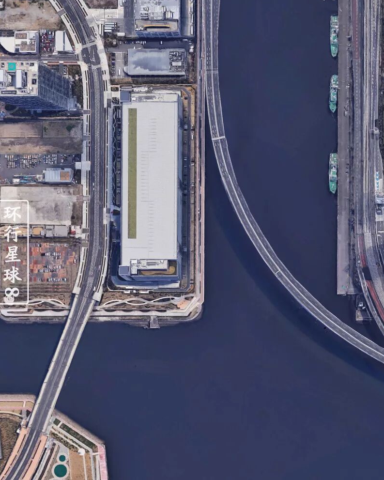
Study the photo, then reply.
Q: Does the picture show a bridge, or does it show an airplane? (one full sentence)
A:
There is a bridge in the scene.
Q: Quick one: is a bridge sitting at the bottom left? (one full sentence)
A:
Yes, at the bottom left there is a bridge.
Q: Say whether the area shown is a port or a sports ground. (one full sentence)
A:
This looks like a port.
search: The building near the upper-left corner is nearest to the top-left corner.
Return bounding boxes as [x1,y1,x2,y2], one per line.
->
[0,31,41,52]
